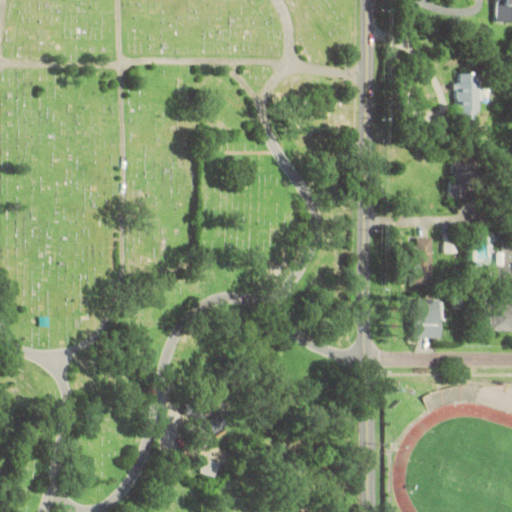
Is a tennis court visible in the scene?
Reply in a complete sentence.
No, I find no tennis court anywhere in the image.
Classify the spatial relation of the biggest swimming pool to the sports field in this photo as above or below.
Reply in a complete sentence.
In the image, the biggest swimming pool appears above the sports field.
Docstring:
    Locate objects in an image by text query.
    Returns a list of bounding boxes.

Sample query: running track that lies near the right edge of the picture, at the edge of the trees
[393,404,512,512]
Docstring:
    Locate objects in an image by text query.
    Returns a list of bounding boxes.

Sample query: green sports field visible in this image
[407,418,512,512]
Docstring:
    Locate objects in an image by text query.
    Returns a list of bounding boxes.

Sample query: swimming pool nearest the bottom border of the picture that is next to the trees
[472,236,494,264]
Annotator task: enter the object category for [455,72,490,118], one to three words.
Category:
house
